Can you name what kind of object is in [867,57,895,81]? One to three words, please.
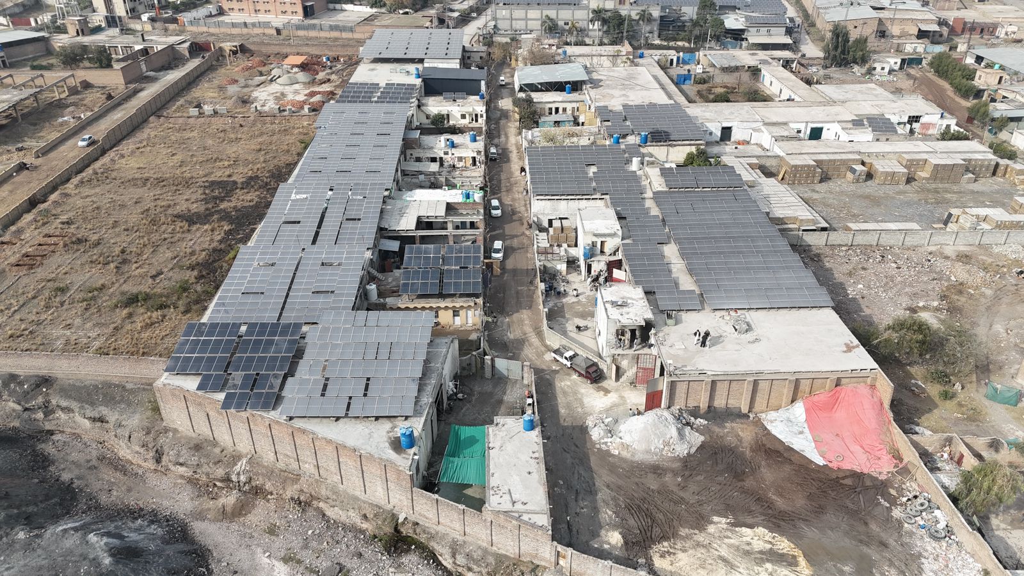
house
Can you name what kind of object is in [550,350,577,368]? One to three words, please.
vehicle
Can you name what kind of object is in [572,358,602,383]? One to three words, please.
truck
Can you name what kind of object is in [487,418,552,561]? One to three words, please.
building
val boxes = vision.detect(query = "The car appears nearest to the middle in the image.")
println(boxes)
[490,242,505,259]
